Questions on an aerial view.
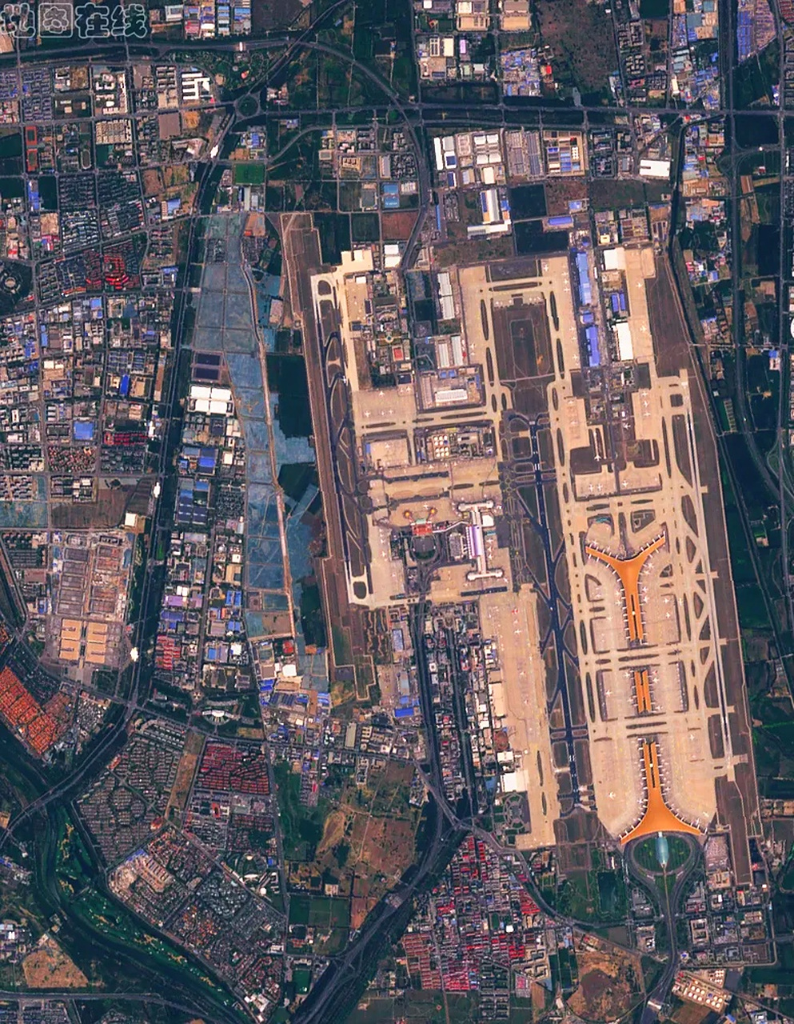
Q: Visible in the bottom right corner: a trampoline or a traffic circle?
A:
traffic circle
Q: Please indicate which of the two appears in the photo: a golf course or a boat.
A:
golf course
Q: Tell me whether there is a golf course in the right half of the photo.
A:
No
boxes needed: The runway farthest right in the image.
[683,376,735,780]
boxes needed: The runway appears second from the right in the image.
[529,421,580,802]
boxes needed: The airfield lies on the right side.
[281,214,764,884]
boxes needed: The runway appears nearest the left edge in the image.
[310,276,353,604]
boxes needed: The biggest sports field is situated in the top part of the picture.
[234,162,265,184]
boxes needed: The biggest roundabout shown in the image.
[623,830,702,928]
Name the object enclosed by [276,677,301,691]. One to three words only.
building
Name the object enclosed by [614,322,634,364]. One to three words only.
hangar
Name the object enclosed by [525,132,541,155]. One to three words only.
shed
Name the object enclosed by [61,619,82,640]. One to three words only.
building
